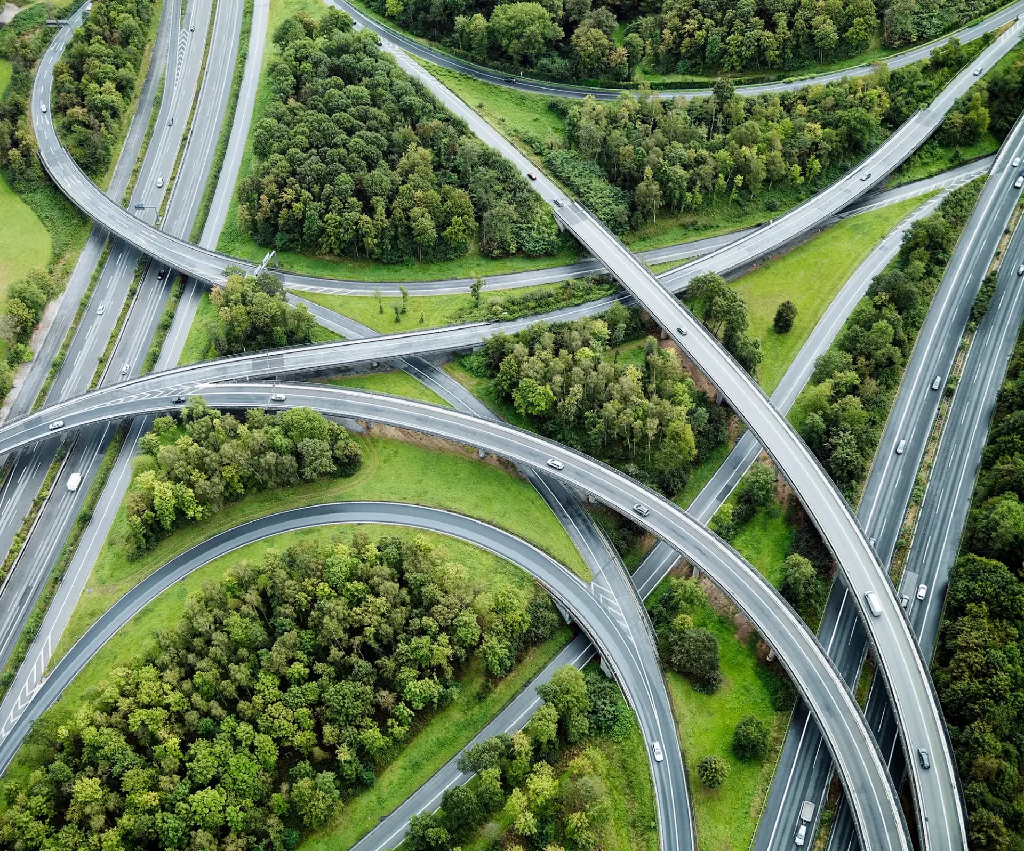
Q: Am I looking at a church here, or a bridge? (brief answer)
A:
bridge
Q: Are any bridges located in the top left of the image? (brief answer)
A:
Yes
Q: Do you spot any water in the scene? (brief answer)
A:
No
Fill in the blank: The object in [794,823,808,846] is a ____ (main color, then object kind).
white car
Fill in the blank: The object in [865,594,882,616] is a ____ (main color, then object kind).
white vehicle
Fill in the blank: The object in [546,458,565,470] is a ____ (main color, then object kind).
white vehicle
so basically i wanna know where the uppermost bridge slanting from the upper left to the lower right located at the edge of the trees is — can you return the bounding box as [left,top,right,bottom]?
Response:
[41,145,244,286]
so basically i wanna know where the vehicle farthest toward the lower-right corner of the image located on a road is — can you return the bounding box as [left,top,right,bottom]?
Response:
[918,748,931,770]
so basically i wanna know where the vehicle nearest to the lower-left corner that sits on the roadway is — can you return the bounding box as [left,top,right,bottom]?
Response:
[64,473,83,494]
